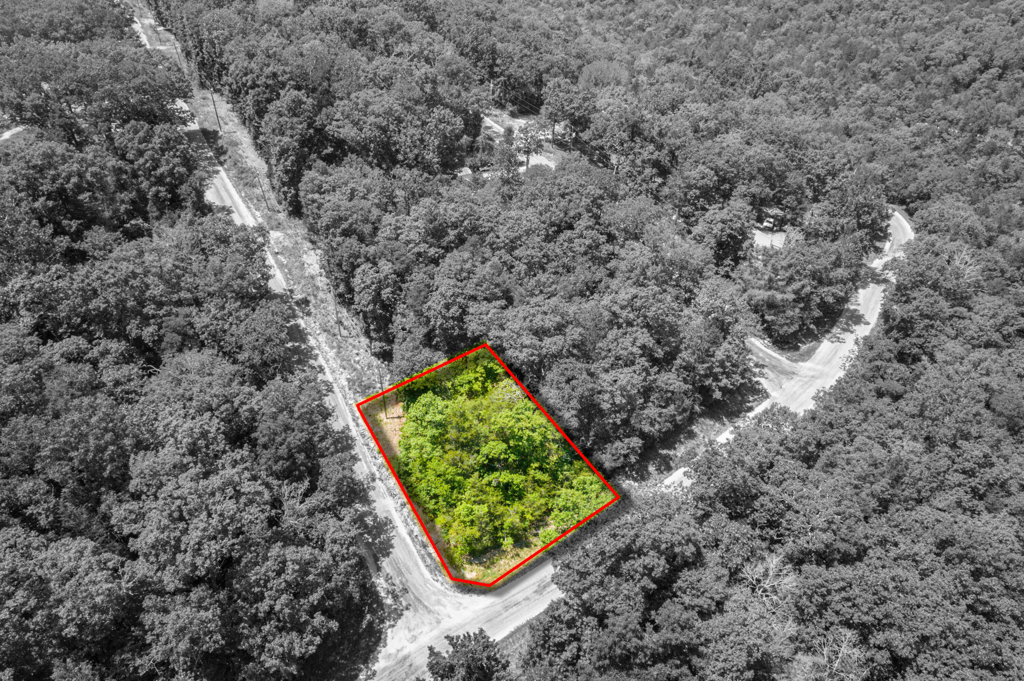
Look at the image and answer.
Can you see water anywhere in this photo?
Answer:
No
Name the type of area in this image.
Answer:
forest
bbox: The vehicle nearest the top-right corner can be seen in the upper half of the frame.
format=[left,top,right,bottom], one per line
[760,208,774,228]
